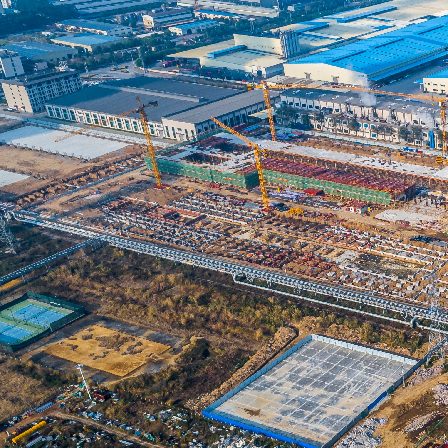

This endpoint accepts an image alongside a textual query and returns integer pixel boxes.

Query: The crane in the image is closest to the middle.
[210,115,273,212]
